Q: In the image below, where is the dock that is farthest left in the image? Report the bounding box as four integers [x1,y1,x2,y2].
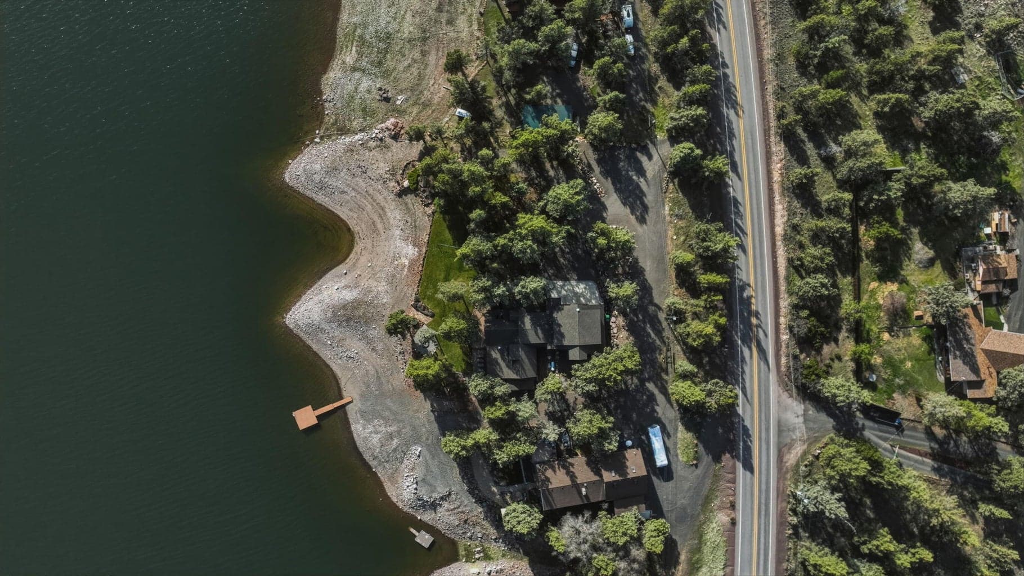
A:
[292,396,353,430]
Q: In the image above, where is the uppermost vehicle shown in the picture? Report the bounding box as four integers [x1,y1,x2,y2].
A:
[621,2,634,29]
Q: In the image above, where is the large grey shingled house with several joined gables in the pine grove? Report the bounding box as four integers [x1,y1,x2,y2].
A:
[484,297,606,390]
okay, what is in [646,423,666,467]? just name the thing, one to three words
camper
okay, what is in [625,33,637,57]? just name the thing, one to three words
vehicle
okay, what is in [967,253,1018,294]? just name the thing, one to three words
house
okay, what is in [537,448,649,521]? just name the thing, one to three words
house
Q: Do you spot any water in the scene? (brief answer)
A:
Yes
